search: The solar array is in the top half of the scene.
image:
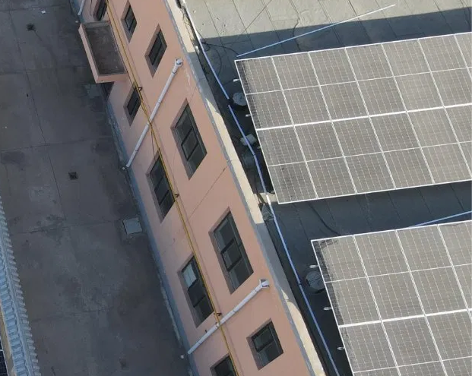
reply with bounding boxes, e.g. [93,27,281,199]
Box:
[228,31,472,205]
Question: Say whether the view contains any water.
No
